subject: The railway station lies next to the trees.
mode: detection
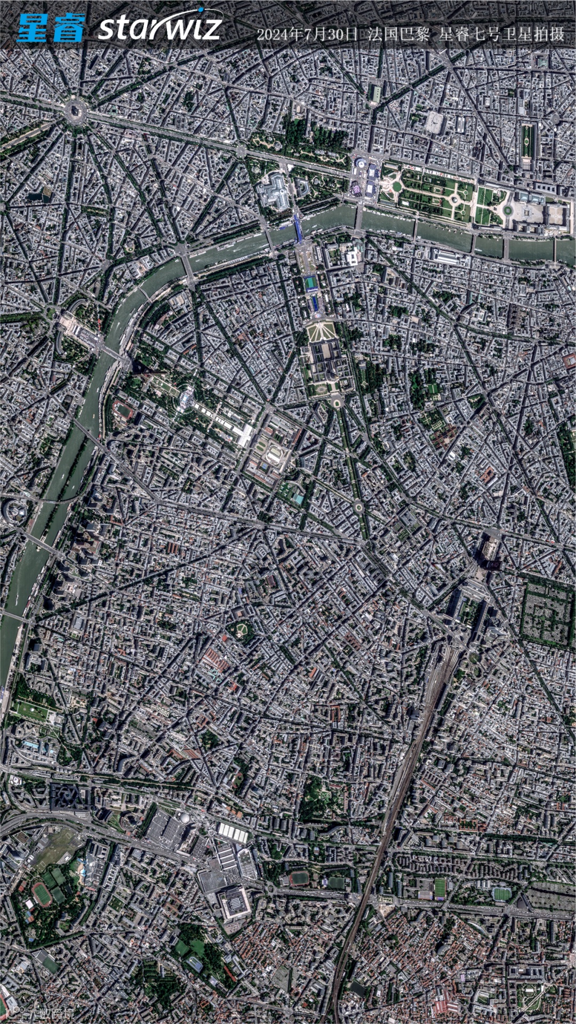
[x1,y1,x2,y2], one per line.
[438,579,490,645]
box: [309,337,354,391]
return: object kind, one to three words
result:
building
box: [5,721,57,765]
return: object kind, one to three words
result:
building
